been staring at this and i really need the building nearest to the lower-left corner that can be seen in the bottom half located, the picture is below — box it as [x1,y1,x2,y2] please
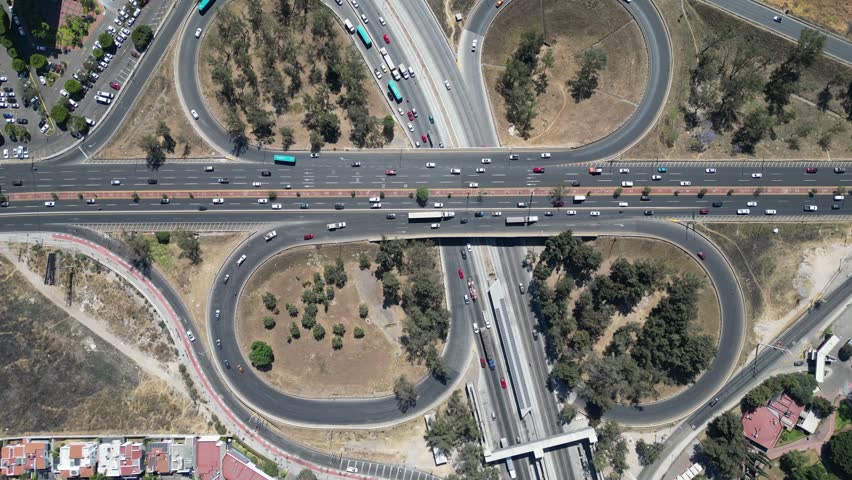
[0,440,33,475]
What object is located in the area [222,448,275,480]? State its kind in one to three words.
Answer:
shed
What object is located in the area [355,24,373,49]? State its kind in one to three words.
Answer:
vehicle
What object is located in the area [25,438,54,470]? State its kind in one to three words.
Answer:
house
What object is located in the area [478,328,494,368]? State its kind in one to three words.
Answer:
vehicle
